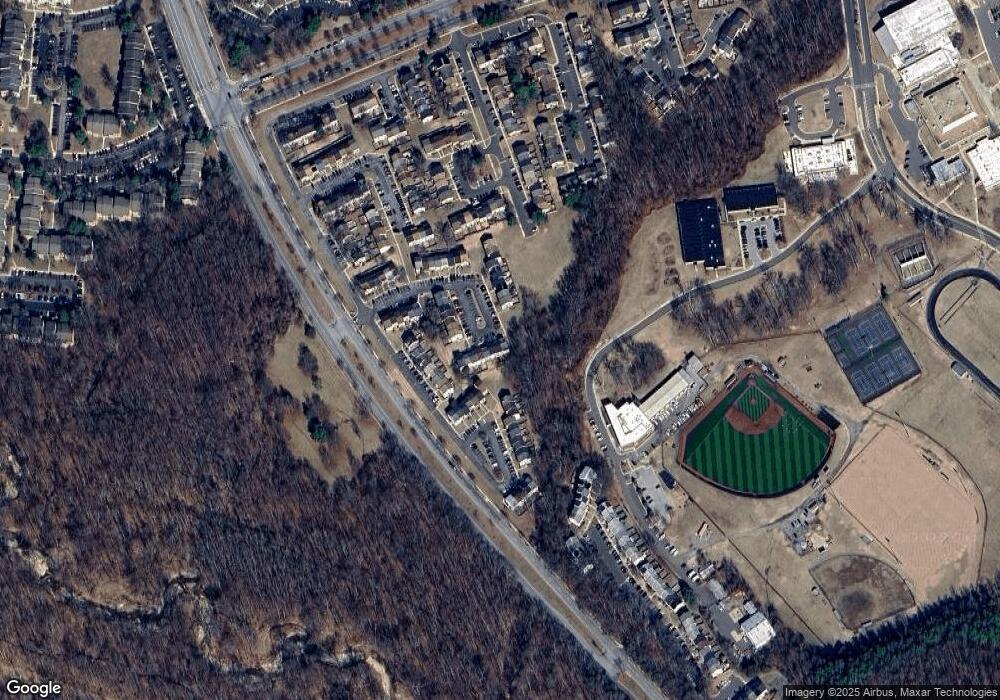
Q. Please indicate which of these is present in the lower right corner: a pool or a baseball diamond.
baseball diamond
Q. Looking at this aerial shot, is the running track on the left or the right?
right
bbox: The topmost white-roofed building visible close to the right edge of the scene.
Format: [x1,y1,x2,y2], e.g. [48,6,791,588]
[873,0,961,89]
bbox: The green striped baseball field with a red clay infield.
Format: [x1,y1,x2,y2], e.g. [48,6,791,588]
[677,358,838,497]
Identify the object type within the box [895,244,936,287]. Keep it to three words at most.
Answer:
sports court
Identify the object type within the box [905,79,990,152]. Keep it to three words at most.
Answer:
building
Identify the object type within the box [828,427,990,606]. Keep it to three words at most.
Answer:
baseball field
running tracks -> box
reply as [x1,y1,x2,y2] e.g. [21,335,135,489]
[926,268,1000,398]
